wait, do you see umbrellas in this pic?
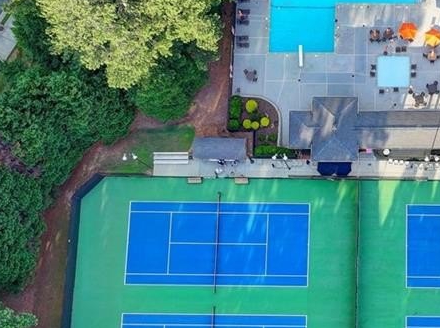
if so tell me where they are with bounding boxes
[426,30,440,45]
[400,23,417,40]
